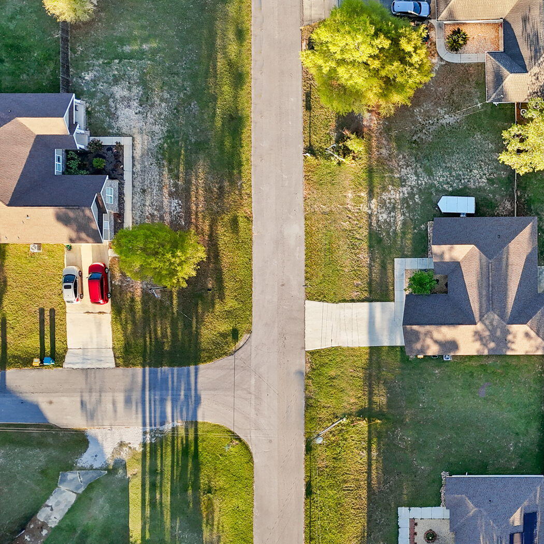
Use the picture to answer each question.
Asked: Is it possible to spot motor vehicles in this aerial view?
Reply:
Yes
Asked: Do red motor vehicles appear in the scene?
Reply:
Yes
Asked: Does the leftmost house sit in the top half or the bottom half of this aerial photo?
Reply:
top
